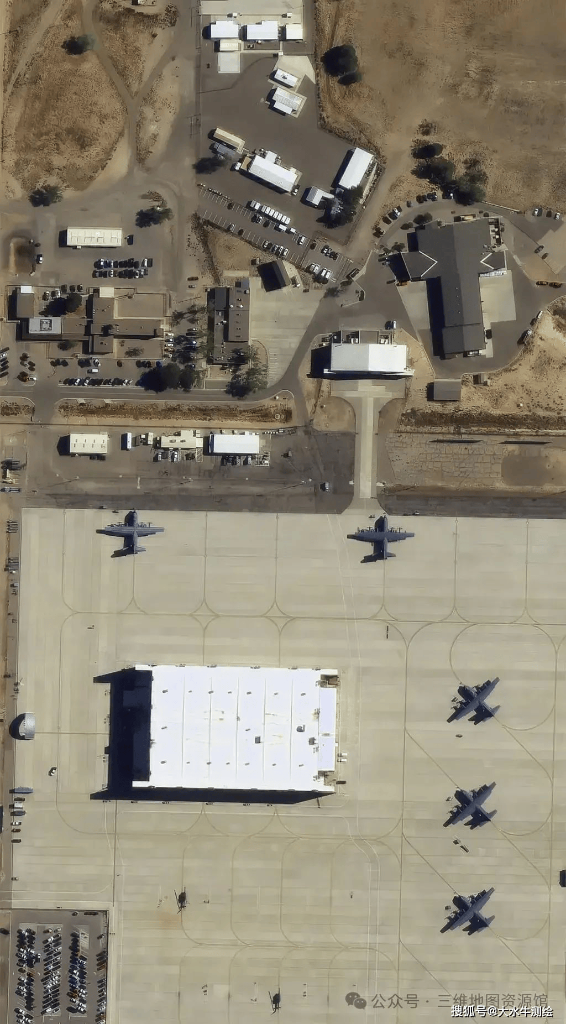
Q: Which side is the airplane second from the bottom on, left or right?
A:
right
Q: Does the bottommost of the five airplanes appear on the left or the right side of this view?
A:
right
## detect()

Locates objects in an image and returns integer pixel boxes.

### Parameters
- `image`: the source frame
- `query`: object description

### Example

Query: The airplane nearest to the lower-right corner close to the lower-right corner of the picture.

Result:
[451,887,497,934]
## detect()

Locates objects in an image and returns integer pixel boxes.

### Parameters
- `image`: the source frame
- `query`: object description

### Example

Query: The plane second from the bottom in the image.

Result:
[452,782,499,829]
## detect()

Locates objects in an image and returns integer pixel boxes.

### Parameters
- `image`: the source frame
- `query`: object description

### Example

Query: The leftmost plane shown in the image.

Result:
[105,511,164,555]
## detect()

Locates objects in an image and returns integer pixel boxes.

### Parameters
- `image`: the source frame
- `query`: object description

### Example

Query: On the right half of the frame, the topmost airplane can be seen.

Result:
[356,516,416,559]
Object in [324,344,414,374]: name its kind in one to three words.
hangar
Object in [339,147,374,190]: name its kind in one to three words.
shed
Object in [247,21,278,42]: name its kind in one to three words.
shed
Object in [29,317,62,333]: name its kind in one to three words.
building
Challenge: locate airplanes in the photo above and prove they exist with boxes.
[452,782,499,829]
[105,511,164,555]
[356,516,416,559]
[451,887,497,934]
[456,677,503,724]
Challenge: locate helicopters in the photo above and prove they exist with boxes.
[182,887,187,909]
[277,988,282,1010]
